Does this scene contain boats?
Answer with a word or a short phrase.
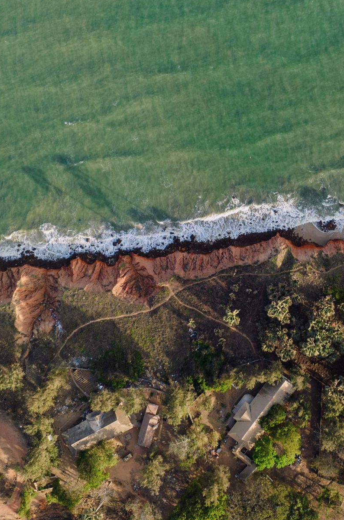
No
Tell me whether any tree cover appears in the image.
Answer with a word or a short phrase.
Yes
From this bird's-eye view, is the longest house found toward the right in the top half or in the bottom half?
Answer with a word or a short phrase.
bottom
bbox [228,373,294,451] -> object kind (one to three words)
house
